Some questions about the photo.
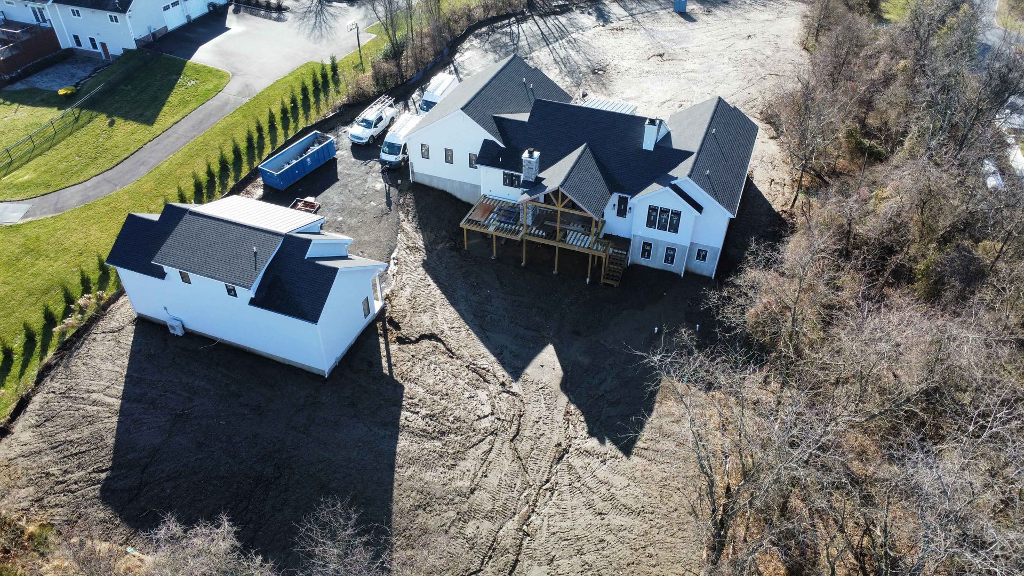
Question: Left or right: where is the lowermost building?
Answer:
left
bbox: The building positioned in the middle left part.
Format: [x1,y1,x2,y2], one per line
[101,194,388,379]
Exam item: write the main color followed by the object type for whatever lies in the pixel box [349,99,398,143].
white truck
